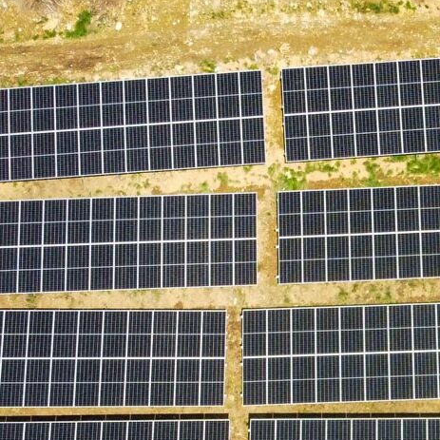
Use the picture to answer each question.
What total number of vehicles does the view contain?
zero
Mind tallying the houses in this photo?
none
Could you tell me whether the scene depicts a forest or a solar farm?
solar farm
